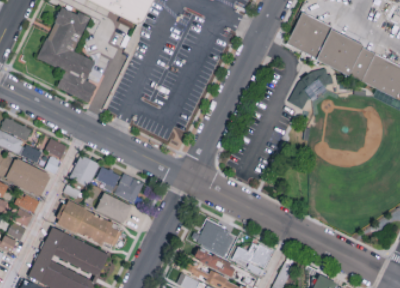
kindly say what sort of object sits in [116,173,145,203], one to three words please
house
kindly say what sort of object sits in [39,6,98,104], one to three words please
building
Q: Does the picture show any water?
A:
No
